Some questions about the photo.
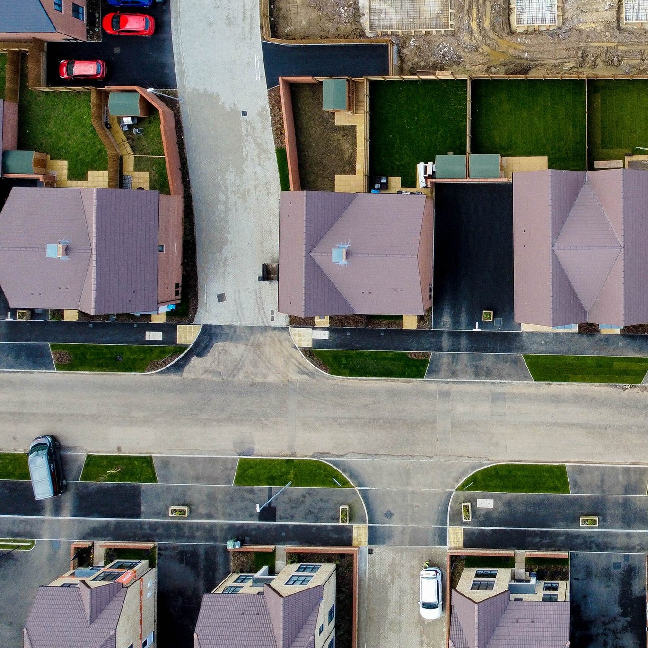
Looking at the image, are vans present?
Yes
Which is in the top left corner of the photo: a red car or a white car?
red car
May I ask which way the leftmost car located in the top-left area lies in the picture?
from side to side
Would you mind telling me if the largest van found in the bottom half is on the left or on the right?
left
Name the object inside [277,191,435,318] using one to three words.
house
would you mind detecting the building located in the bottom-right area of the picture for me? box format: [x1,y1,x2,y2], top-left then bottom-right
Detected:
[449,567,571,648]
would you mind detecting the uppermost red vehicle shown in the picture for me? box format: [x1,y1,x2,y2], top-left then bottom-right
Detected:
[103,9,157,37]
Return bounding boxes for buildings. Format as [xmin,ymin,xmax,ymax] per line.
[23,561,157,648]
[434,155,468,178]
[469,154,501,178]
[513,169,648,327]
[109,92,151,118]
[277,191,435,318]
[0,186,184,318]
[198,560,337,648]
[323,79,352,112]
[0,98,37,180]
[449,567,571,648]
